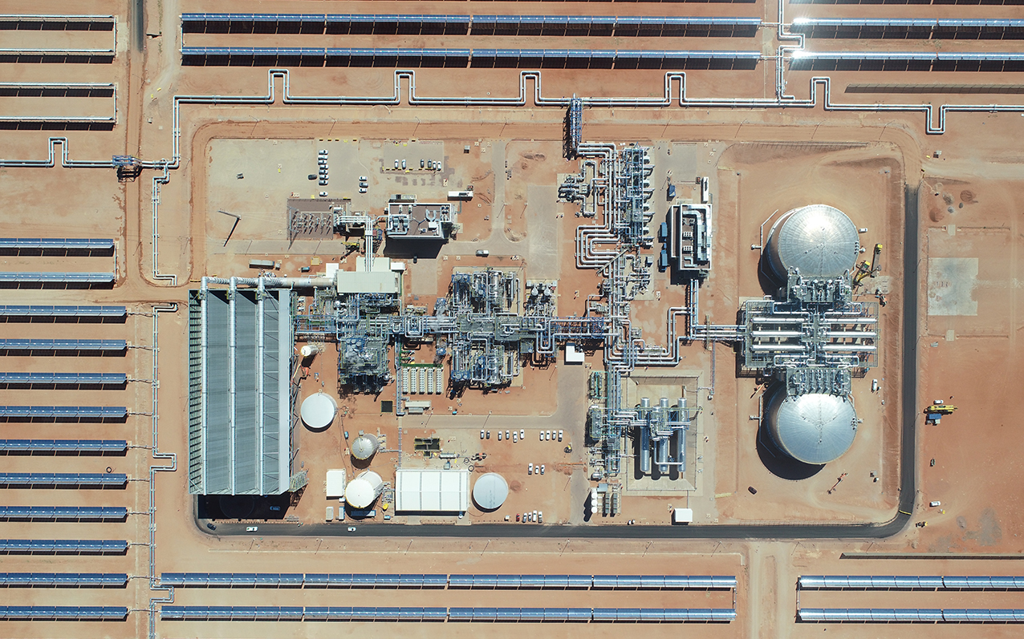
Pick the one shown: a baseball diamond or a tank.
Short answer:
tank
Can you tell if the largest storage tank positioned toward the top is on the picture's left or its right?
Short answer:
right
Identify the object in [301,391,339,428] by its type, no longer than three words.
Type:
storage tank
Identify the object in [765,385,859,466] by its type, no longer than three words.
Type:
storage tank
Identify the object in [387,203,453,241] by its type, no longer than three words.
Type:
building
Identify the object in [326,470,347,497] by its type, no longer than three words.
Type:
building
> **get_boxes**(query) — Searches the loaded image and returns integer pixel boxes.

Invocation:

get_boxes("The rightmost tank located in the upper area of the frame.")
[765,203,859,283]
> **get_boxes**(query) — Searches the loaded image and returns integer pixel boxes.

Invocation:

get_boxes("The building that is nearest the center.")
[565,343,585,362]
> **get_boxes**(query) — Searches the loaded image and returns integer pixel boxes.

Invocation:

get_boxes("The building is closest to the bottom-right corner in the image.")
[673,506,693,523]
